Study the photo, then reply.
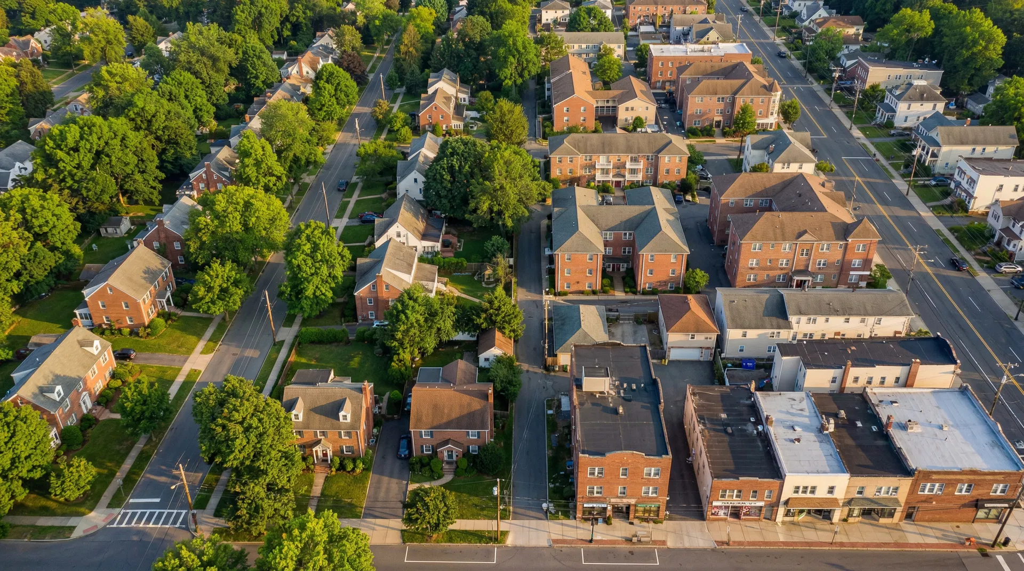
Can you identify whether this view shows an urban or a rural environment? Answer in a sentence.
This place is urban.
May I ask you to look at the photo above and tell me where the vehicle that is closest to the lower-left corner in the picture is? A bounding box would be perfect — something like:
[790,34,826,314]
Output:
[11,344,33,360]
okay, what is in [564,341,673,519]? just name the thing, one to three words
building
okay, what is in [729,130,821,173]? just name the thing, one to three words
house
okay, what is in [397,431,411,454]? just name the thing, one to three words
car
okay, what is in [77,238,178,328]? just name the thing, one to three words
house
